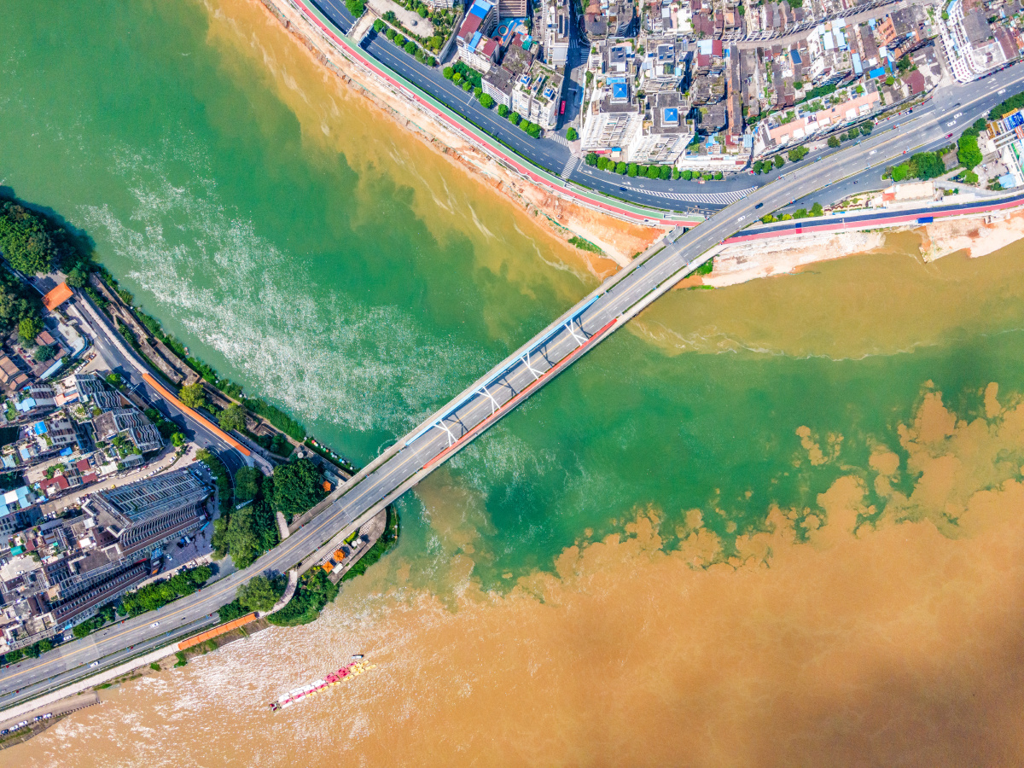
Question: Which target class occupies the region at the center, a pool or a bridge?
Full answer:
Looking at the center, you will find a bridge.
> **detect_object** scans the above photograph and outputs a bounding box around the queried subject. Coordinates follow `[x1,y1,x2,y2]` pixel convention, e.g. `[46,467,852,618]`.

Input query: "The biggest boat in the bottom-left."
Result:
[267,700,280,713]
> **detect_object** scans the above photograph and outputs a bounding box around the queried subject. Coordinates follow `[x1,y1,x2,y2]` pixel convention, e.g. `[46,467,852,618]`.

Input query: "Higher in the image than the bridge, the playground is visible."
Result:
[491,19,531,48]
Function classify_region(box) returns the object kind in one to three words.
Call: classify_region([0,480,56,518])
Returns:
building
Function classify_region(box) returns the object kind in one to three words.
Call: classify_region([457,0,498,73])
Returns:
building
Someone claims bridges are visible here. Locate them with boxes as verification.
[280,121,913,567]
